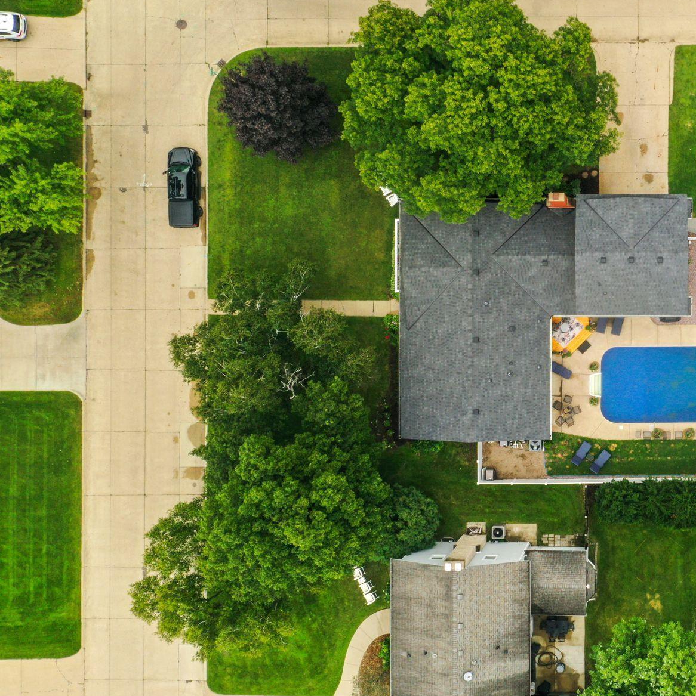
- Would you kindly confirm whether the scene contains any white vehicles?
Yes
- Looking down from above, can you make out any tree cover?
Yes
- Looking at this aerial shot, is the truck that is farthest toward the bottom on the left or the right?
left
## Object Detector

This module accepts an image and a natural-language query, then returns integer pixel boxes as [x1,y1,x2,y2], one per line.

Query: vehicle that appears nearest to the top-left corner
[0,13,32,43]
